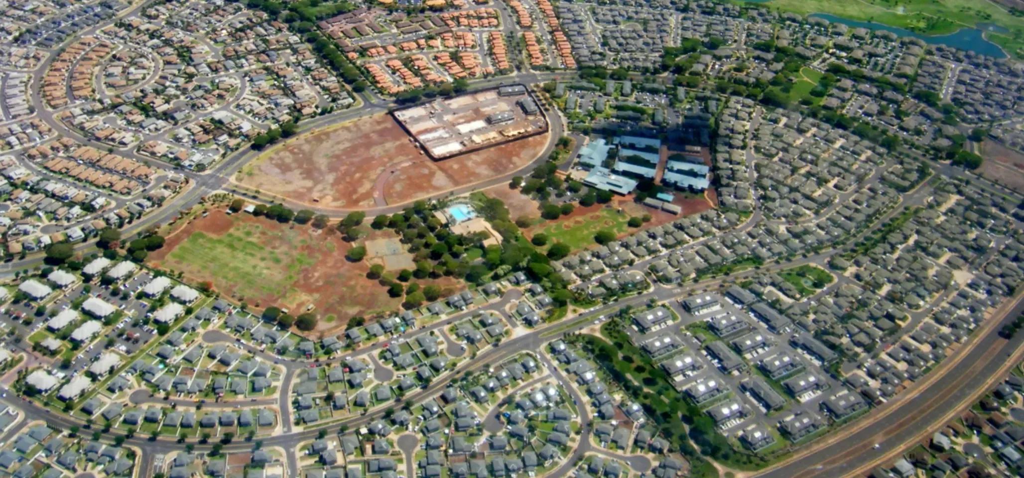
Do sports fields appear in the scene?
Yes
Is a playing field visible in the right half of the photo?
No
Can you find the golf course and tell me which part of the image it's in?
top right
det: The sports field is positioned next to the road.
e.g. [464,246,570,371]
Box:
[145,203,462,337]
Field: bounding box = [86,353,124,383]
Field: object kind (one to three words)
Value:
building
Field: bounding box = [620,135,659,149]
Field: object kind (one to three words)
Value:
building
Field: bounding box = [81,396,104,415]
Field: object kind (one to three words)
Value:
house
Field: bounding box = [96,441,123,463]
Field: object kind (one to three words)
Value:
house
